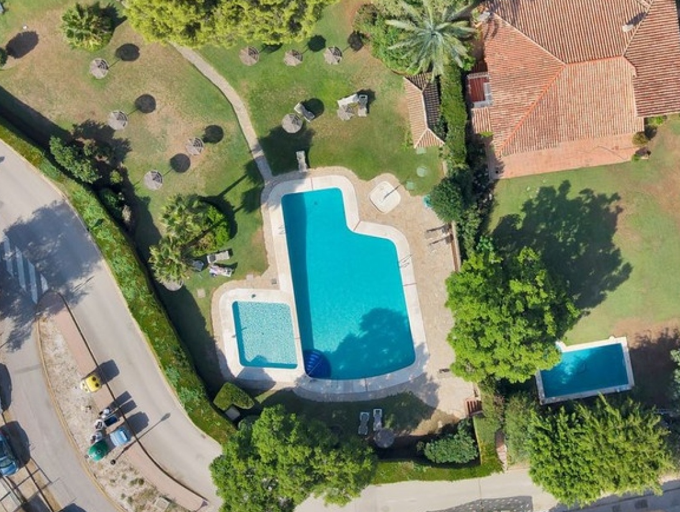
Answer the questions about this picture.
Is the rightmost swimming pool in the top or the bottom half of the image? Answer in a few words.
bottom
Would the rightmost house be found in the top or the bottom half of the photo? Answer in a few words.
top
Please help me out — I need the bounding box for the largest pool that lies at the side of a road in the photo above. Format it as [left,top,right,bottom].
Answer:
[230,175,426,394]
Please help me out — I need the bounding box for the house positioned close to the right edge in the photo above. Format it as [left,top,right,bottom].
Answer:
[465,0,680,159]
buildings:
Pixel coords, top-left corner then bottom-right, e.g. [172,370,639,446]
[402,72,446,150]
[465,0,680,159]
